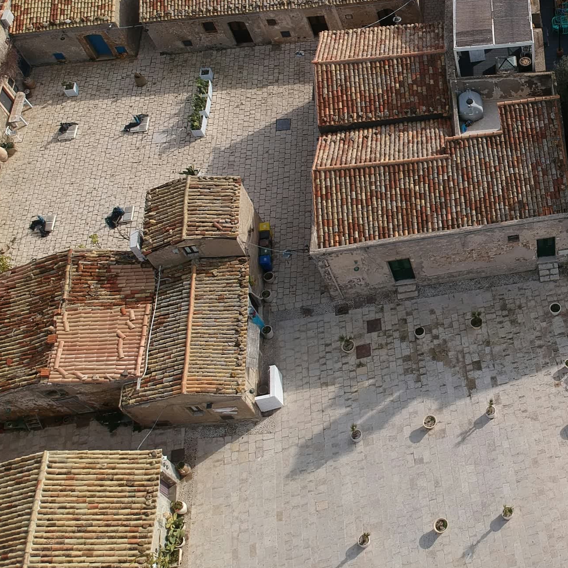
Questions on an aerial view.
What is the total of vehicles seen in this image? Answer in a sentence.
There are no vehicles in the image.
